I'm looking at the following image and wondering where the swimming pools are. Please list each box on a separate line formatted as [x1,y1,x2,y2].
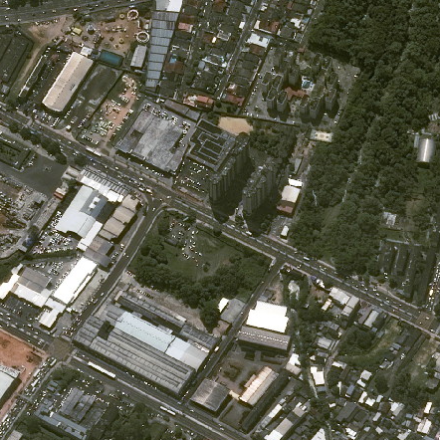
[99,50,124,67]
[302,76,315,90]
